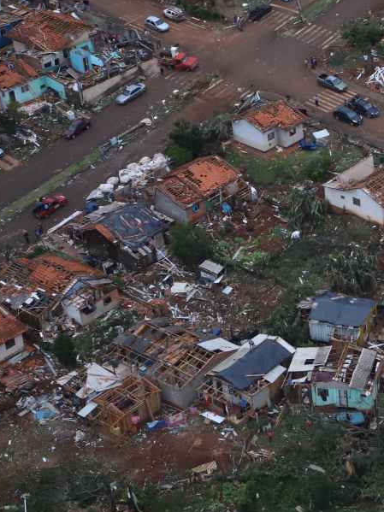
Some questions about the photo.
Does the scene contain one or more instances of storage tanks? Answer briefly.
No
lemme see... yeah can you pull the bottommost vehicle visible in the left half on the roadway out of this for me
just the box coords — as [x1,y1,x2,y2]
[33,193,70,215]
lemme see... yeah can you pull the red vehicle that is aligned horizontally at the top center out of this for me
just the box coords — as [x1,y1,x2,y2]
[161,49,204,68]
